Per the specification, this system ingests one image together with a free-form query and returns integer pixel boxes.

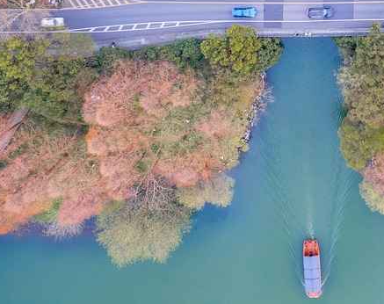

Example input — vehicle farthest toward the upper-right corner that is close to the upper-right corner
[307,8,334,20]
